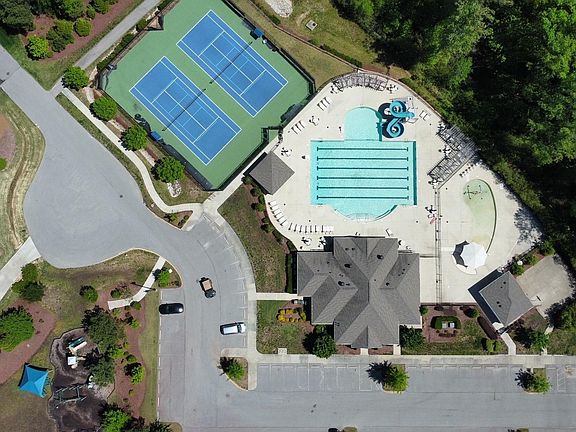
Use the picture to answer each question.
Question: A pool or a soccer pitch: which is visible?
pool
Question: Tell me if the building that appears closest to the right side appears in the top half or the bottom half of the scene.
bottom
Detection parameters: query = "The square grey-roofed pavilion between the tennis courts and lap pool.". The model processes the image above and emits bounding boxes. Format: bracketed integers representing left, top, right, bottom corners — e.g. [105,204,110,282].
[249,151,295,195]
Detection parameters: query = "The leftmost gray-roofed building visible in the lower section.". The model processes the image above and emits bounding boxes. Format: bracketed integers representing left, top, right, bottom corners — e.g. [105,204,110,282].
[297,237,421,348]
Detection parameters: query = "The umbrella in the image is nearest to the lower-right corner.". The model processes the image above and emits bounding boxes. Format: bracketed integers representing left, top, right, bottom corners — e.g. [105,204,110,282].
[460,241,487,267]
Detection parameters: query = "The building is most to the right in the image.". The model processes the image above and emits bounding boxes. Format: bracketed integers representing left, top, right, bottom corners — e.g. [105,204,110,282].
[477,270,533,330]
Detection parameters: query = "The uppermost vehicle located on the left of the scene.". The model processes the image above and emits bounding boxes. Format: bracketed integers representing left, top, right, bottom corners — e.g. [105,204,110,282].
[199,277,216,300]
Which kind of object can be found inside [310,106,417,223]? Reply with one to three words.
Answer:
swimming pool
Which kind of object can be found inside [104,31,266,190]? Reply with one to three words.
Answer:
tennis court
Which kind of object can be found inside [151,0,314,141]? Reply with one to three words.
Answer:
tennis court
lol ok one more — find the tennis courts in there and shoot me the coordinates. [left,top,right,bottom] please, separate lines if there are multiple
[104,31,266,190]
[151,0,314,141]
